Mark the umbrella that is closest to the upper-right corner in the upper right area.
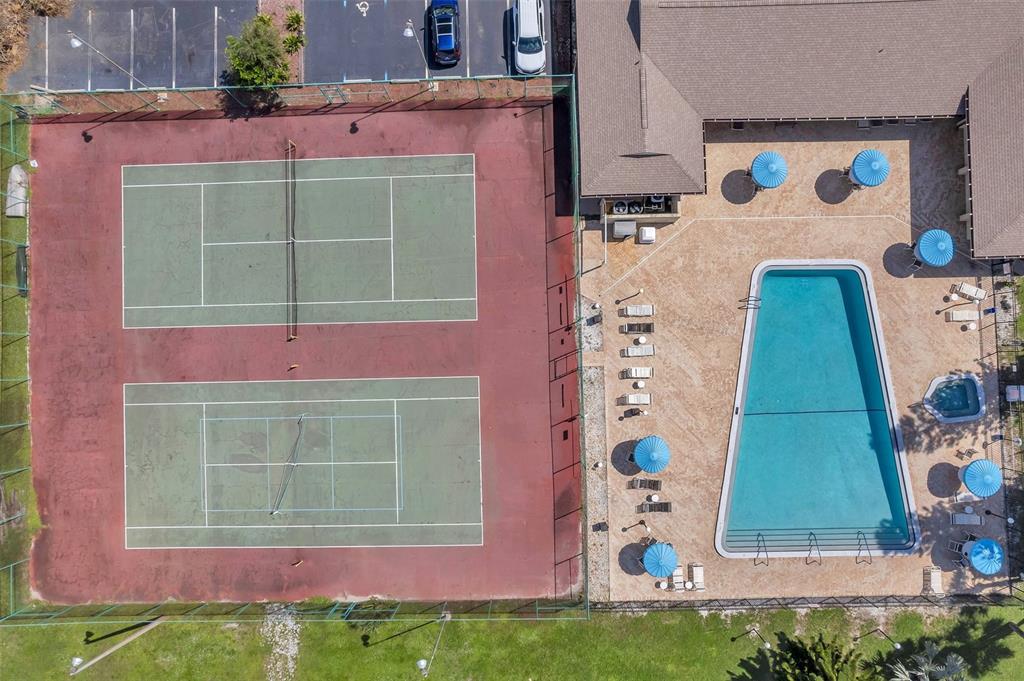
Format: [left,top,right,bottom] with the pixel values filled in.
[852,149,891,187]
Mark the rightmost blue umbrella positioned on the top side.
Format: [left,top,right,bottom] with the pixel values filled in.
[916,229,956,267]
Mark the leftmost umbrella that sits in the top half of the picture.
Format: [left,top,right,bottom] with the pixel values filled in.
[750,151,788,188]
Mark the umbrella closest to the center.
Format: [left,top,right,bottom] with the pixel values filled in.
[634,436,671,472]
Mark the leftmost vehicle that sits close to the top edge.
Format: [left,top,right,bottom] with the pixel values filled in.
[428,0,463,65]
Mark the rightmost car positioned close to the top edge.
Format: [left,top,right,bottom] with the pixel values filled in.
[512,0,549,78]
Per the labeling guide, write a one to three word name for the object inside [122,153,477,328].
tennis court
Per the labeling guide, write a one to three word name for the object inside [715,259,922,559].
swimming pool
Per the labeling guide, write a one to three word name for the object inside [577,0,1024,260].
building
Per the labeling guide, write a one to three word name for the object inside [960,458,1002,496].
umbrella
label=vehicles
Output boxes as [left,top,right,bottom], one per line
[512,0,549,78]
[428,0,463,65]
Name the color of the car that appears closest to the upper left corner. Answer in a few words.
blue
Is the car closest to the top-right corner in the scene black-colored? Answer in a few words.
No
